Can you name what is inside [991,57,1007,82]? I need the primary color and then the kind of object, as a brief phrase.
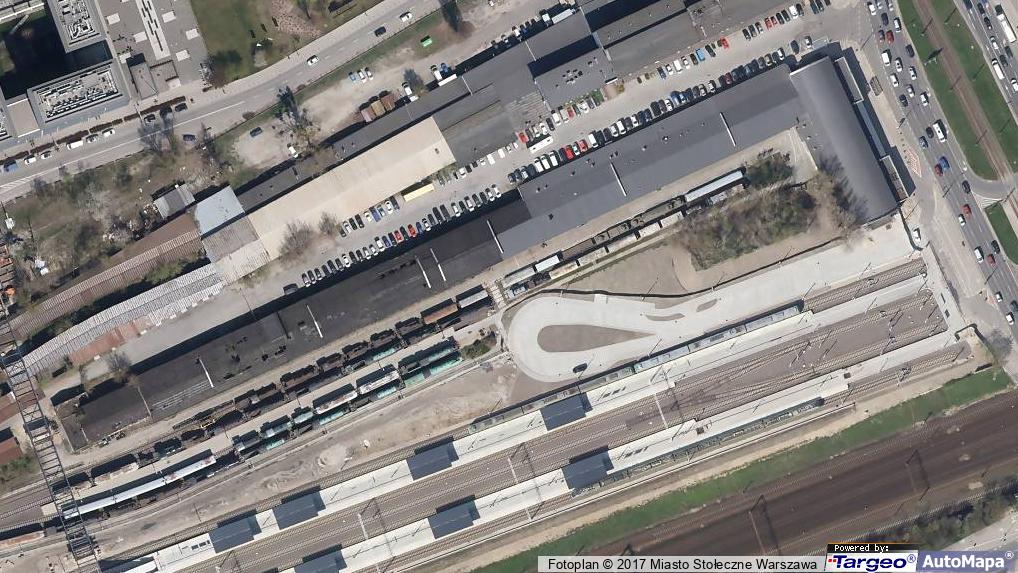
white vehicle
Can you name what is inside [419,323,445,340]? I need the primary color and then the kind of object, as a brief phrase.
gray rail car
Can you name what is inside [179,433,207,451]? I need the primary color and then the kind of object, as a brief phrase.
gray rail car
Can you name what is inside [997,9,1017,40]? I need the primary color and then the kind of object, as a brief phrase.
white vehicle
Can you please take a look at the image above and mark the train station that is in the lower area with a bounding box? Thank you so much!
[96,246,966,573]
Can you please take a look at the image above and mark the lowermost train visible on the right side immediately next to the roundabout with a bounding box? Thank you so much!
[574,402,823,497]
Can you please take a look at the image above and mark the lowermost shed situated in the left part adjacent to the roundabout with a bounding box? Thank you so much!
[76,193,531,452]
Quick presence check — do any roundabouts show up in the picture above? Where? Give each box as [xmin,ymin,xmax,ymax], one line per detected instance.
[509,210,921,383]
